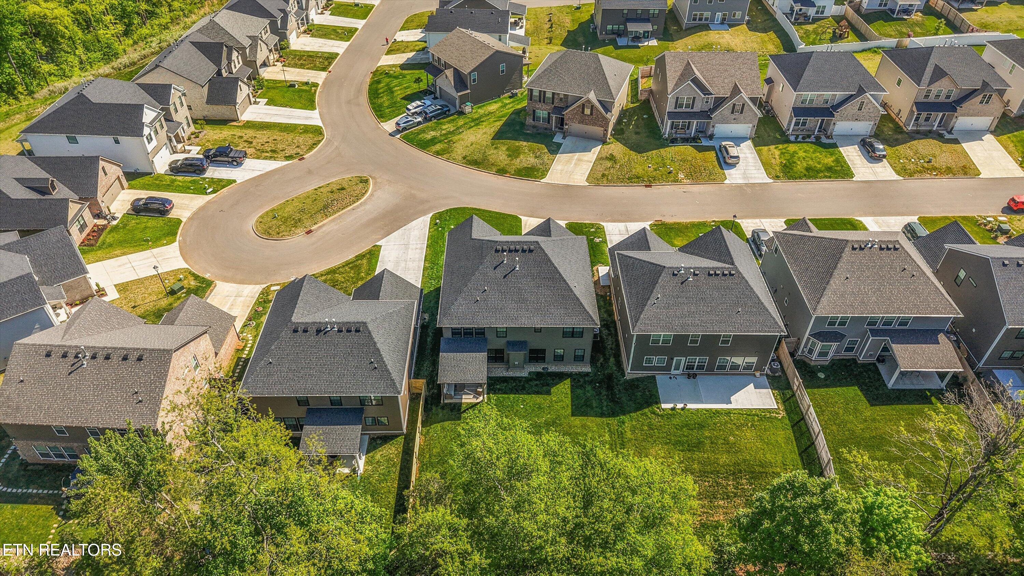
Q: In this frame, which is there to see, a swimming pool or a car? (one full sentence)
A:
It is a car that can be seen here.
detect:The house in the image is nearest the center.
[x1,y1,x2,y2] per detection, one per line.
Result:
[437,214,600,404]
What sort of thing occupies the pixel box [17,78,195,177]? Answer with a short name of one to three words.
house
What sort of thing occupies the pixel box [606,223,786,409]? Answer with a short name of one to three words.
house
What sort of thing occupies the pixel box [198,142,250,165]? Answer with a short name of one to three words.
truck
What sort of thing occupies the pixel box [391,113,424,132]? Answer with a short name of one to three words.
car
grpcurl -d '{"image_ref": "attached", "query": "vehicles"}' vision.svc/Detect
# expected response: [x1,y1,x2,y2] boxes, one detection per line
[402,97,433,114]
[166,153,210,173]
[419,102,451,121]
[861,137,889,159]
[129,193,176,215]
[391,113,424,132]
[750,227,769,250]
[720,142,742,164]
[900,216,932,240]
[198,142,250,165]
